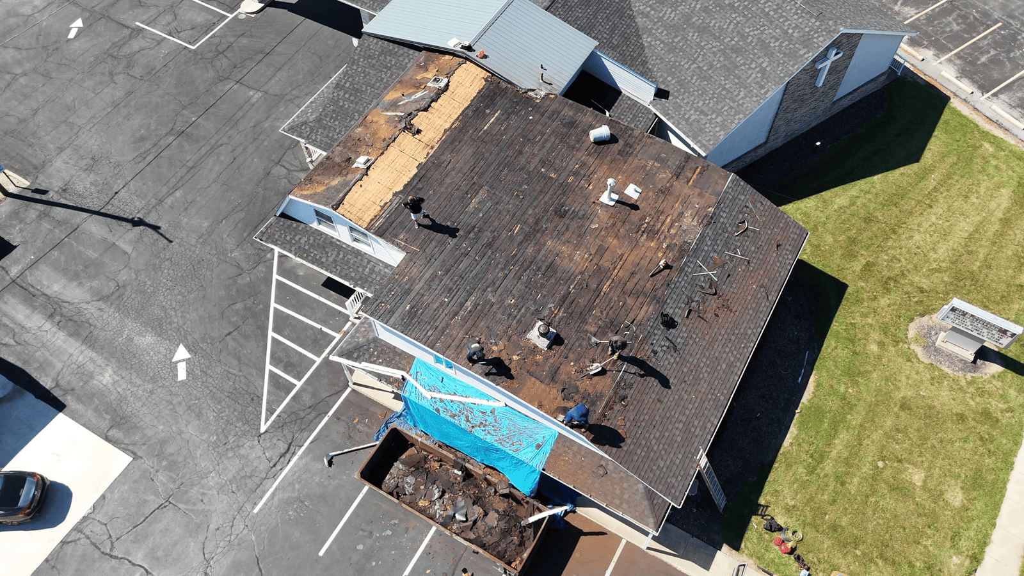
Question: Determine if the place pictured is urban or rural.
urban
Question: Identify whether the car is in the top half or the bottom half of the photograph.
bottom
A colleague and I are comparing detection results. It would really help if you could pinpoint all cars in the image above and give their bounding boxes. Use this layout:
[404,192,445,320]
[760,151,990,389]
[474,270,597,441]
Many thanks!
[0,465,54,530]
